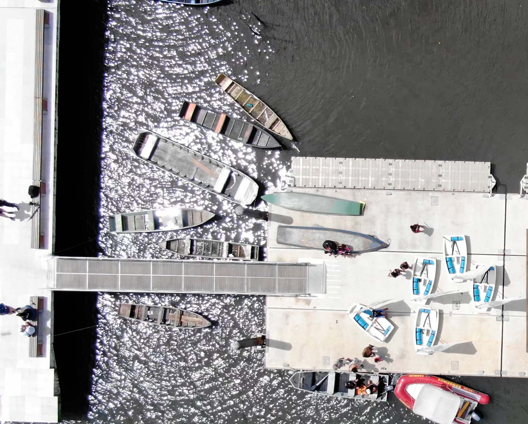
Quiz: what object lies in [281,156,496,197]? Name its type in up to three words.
pier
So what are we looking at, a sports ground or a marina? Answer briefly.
marina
